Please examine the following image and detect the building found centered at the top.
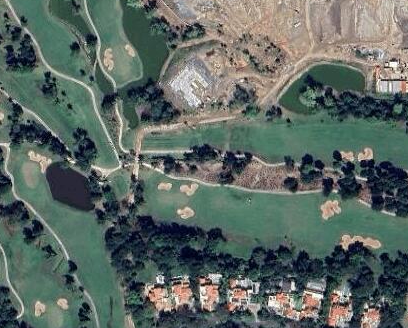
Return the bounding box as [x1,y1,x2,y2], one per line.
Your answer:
[171,61,213,106]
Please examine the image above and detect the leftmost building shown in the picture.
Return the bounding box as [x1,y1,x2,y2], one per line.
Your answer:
[145,273,175,311]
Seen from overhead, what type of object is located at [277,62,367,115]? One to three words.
pond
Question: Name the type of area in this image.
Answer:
golf course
